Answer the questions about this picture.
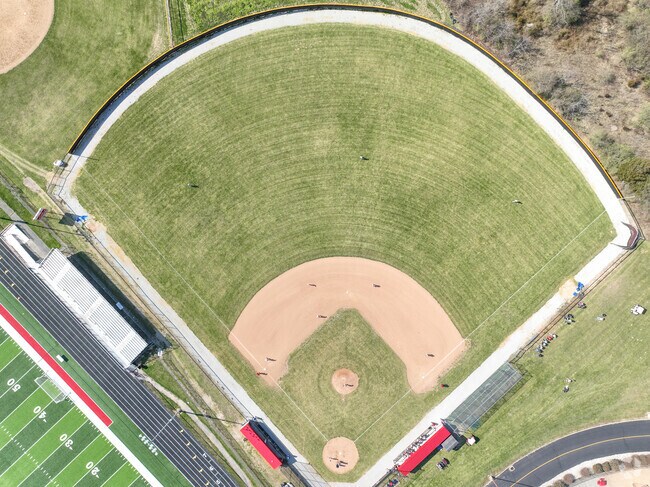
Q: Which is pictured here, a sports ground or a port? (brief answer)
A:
sports ground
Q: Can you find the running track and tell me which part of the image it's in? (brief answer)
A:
bottom left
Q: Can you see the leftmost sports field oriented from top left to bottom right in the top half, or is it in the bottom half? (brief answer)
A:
bottom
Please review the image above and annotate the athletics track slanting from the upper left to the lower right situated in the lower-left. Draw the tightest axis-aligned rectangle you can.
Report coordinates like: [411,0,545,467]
[0,229,243,487]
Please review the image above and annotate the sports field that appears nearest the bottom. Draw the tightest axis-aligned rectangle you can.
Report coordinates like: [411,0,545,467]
[0,281,194,487]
